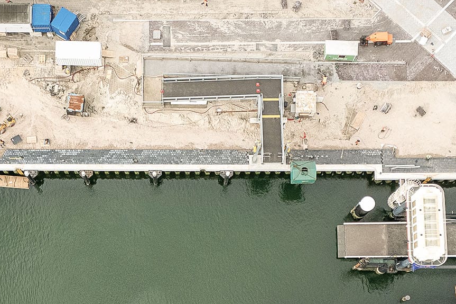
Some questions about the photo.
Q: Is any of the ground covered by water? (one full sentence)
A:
Yes, the picture does contain water.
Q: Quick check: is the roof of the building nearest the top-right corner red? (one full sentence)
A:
No, the color of the roof of the building nearest the top-right corner is white.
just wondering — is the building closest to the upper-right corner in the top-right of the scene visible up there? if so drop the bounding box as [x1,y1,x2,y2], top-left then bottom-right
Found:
[321,40,358,65]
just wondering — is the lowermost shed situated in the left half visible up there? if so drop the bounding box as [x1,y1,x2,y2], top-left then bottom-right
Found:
[68,95,90,120]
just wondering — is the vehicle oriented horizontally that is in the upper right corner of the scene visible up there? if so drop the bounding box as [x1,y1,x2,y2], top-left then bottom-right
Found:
[357,28,397,47]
